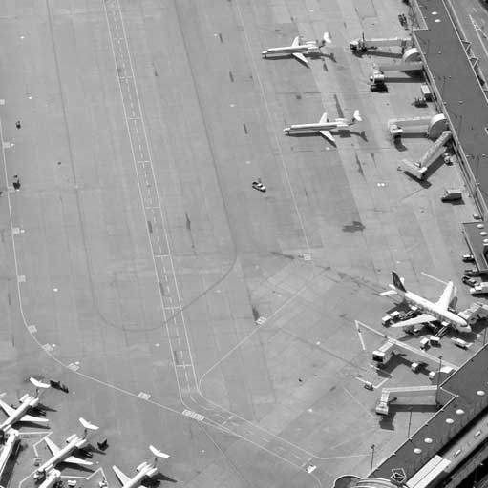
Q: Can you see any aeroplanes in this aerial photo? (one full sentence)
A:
Yes, looking at the shot, I can spot an aeroplane.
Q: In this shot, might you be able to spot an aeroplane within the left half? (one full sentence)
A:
Yes, an aeroplane appears within the left half.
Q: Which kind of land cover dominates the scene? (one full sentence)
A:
The bulk of the photo consists of paved ground.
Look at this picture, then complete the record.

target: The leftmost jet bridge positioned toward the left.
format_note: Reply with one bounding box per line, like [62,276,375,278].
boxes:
[0,426,19,486]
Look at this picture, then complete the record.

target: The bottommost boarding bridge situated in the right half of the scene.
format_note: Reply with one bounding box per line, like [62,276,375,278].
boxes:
[374,384,441,417]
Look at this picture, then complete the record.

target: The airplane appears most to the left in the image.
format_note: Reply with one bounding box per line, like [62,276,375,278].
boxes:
[0,377,55,437]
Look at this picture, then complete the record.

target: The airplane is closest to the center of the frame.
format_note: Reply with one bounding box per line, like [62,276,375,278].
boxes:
[285,107,362,140]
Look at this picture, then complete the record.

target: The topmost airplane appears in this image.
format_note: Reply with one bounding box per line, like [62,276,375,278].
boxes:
[263,31,335,62]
